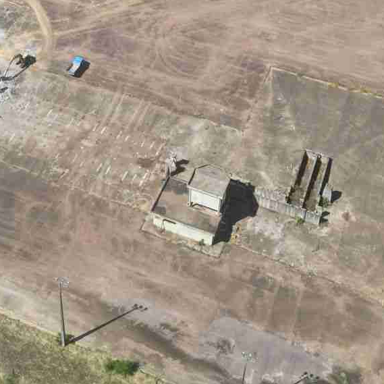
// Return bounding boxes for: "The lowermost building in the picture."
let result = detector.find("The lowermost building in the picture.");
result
[151,164,231,244]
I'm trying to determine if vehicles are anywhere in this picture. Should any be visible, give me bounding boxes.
[65,52,89,77]
[3,49,40,76]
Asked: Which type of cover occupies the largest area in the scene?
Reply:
paved ground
